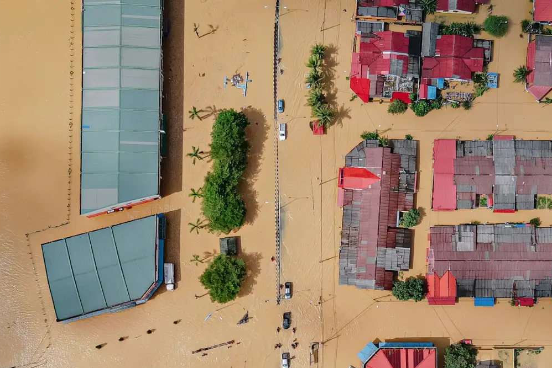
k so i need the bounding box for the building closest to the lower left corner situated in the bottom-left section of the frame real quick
[41,213,166,325]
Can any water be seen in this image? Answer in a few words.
Yes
